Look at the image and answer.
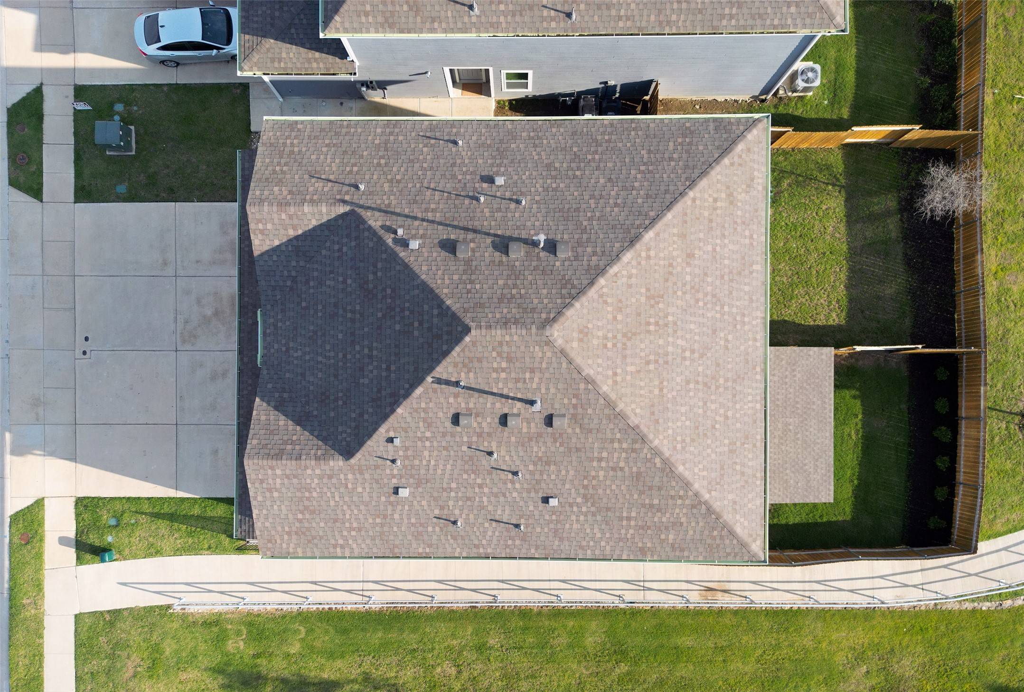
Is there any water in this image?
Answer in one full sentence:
No, no water is visible.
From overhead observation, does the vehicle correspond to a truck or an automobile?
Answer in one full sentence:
The vehicle in the image is an automobile.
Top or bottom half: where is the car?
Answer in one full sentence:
Seen from above, the car lies in the top half of the view.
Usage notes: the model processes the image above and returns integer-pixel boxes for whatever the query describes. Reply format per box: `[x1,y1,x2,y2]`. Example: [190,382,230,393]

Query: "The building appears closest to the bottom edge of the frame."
[234,114,834,565]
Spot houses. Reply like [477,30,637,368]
[237,0,849,101]
[234,114,834,565]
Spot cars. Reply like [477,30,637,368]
[132,2,237,66]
